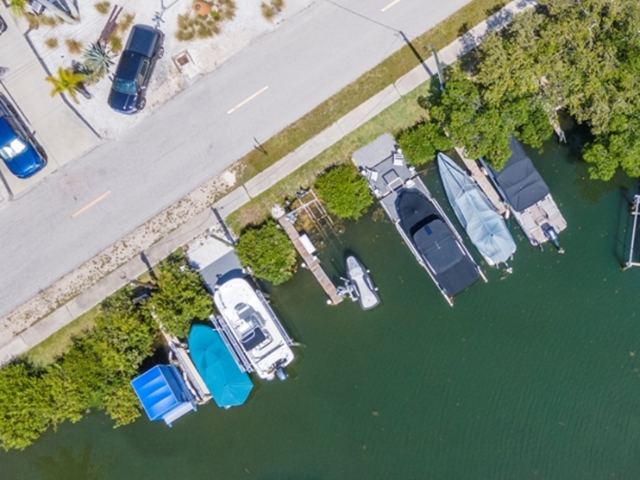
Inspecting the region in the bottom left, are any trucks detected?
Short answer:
No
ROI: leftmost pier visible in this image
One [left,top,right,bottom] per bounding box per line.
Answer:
[170,330,209,407]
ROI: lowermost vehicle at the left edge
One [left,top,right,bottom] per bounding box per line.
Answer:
[0,96,49,180]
